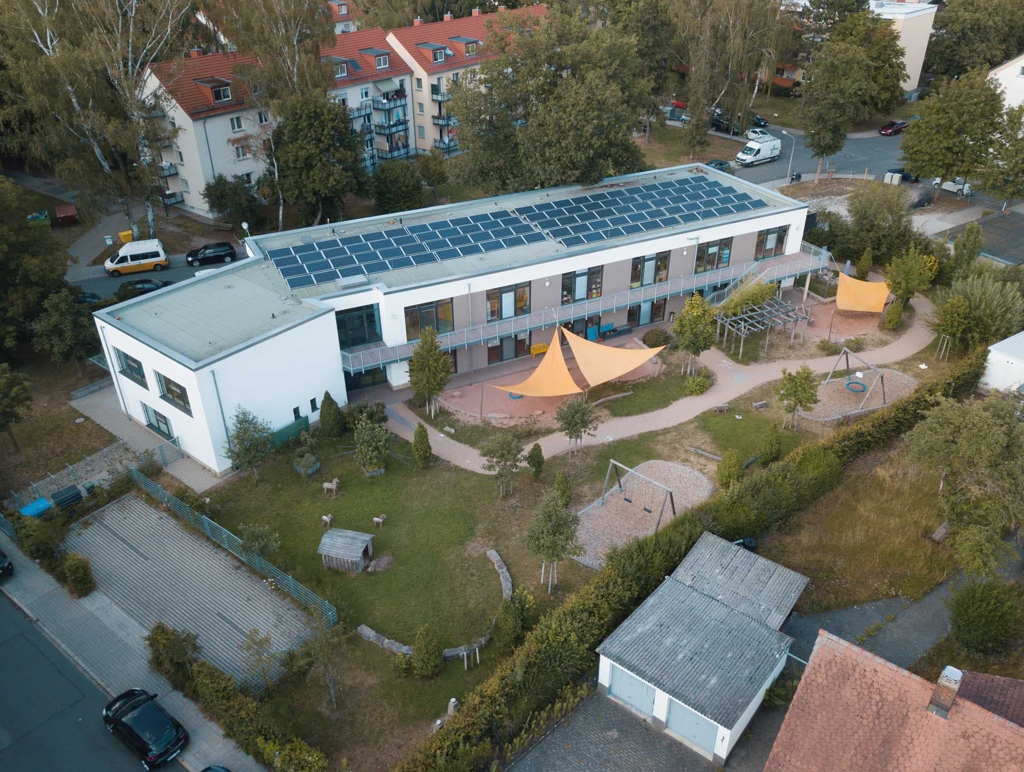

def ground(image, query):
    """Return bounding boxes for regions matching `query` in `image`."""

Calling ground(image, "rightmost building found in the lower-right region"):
[759,628,1024,772]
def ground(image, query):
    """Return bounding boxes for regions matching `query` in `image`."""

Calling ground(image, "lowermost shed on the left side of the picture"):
[317,536,372,572]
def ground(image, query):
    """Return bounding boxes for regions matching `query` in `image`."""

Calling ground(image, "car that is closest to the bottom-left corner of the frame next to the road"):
[106,690,189,772]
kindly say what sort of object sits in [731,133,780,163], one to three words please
van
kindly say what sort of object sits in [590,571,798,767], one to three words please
building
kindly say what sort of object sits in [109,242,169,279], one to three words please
van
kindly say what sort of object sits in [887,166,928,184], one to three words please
car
